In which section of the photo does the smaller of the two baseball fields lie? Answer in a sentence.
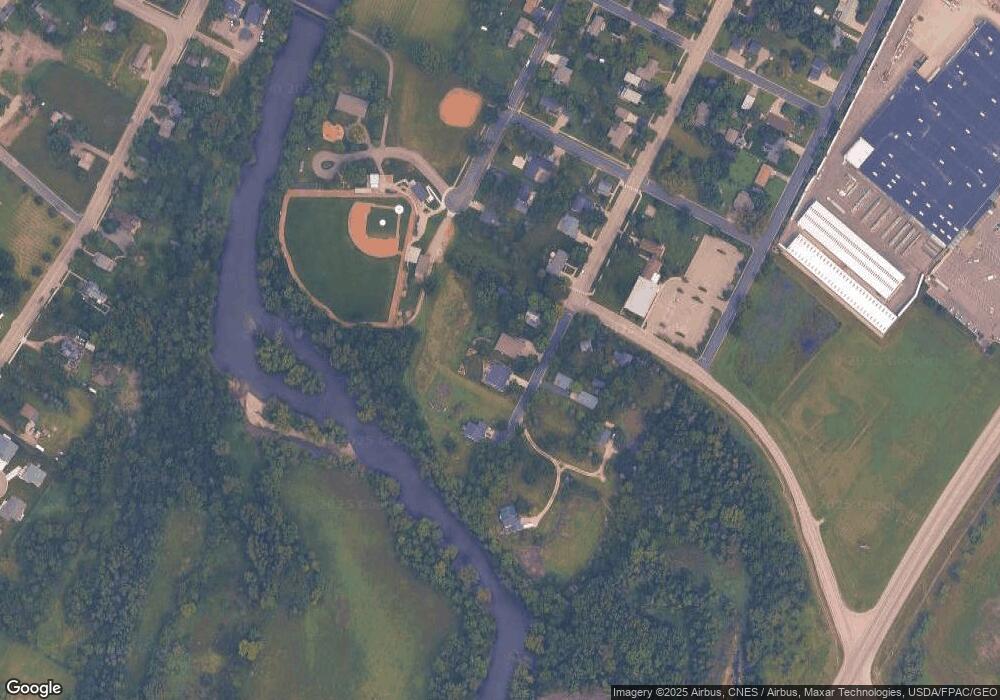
The smaller of the two baseball fields is in the top part of the image.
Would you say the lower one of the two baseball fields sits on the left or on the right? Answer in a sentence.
The lower one of the two baseball fields appears in the left half of the scene.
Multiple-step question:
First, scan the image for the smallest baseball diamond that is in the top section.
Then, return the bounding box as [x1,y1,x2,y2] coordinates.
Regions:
[438,87,482,128]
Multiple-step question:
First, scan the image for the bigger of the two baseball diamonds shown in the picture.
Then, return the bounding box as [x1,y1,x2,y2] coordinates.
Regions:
[279,188,416,329]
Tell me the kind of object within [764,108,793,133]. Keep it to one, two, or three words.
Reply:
house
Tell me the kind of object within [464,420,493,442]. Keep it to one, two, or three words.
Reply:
house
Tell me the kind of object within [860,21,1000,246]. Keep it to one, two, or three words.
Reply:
warehouse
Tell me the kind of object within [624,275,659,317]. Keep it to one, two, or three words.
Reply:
building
